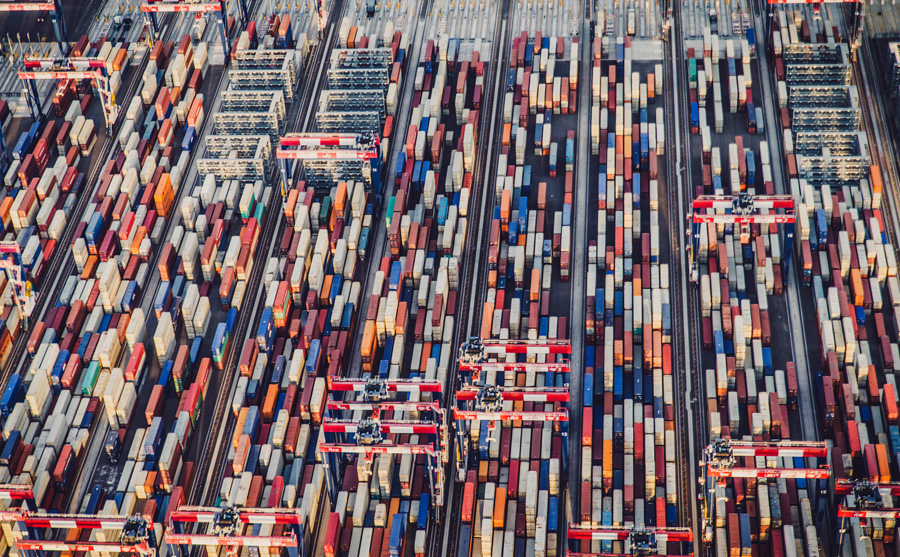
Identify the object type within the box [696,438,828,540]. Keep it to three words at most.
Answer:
container crane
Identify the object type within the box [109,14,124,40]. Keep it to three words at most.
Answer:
vehicle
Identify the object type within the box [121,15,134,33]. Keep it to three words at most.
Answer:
vehicle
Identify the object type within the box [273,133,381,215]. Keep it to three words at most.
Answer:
container crane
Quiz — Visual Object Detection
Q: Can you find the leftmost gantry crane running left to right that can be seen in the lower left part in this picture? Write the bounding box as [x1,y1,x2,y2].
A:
[26,509,163,557]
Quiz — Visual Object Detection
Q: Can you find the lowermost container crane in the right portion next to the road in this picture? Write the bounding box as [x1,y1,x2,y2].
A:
[569,521,694,557]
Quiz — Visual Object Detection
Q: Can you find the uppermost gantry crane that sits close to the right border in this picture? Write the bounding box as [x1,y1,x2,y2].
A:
[765,0,857,57]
